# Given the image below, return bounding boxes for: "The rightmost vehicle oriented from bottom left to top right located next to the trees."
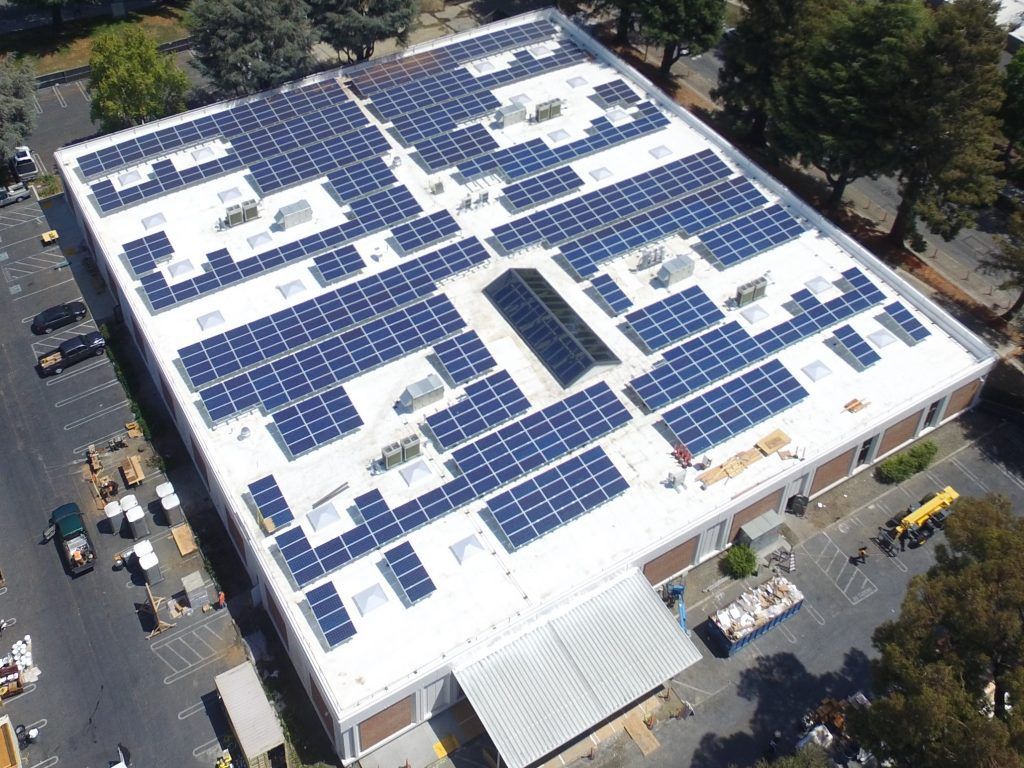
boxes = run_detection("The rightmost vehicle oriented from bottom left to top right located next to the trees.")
[885,481,962,544]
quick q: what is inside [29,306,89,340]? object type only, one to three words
car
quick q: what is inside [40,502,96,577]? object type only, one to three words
truck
